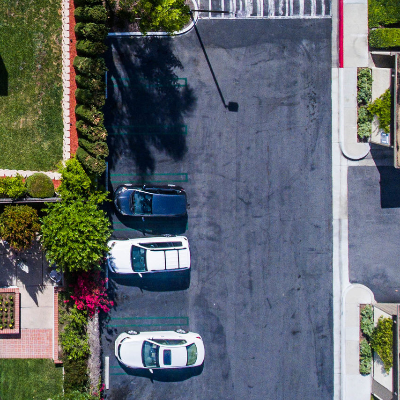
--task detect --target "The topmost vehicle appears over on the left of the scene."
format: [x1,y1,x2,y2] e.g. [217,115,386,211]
[110,184,189,225]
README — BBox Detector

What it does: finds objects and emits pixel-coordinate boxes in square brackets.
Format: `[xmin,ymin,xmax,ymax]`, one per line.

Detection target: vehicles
[110,184,189,225]
[112,329,205,377]
[104,235,193,280]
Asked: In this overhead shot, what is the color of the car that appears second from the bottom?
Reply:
white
